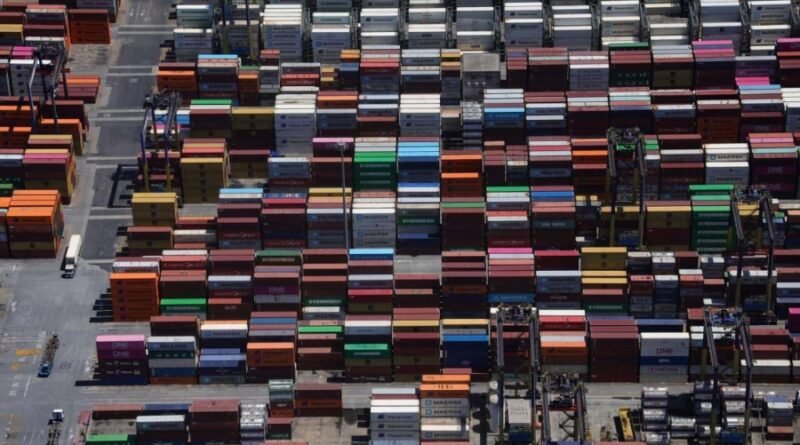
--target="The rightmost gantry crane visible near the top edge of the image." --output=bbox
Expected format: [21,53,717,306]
[219,0,259,66]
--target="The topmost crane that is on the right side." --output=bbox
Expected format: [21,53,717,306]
[600,130,649,252]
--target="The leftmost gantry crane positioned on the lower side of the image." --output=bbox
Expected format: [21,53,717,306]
[490,308,539,445]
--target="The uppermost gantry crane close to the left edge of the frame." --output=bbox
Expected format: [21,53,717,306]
[23,41,77,134]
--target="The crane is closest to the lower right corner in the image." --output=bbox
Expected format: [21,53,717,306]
[696,307,758,445]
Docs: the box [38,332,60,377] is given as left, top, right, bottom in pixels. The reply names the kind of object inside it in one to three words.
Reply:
truck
